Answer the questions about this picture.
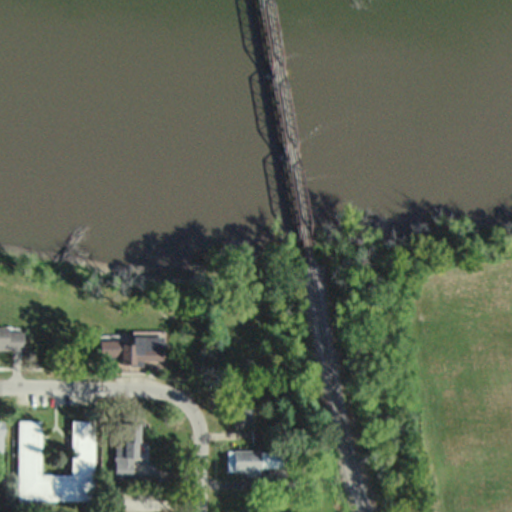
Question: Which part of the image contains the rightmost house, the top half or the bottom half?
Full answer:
Seen from above, the rightmost house lies in the bottom half of the view.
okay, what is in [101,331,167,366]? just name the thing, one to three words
house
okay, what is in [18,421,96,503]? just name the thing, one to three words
building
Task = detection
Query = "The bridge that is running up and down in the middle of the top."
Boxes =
[258,0,320,251]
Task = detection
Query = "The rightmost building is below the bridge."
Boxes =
[227,450,283,474]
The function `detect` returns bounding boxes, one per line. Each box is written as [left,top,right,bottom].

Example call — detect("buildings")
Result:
[18,421,96,503]
[116,412,142,476]
[0,422,6,456]
[101,331,167,366]
[0,326,26,356]
[227,450,283,474]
